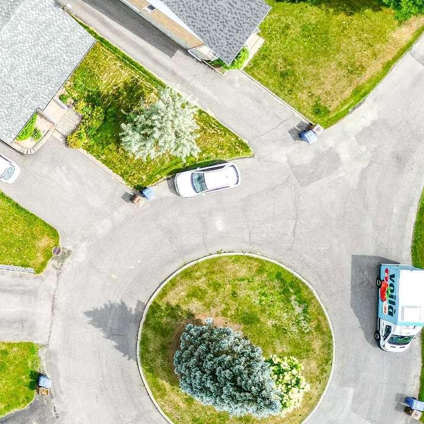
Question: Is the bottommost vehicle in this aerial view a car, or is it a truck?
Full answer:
The bottommost vehicle is a truck.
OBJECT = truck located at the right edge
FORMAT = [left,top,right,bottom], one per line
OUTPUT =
[361,264,421,352]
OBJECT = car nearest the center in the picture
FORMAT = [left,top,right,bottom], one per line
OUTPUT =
[174,161,240,197]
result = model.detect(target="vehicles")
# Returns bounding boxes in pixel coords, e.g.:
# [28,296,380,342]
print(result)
[0,150,23,185]
[174,161,240,197]
[361,264,421,352]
